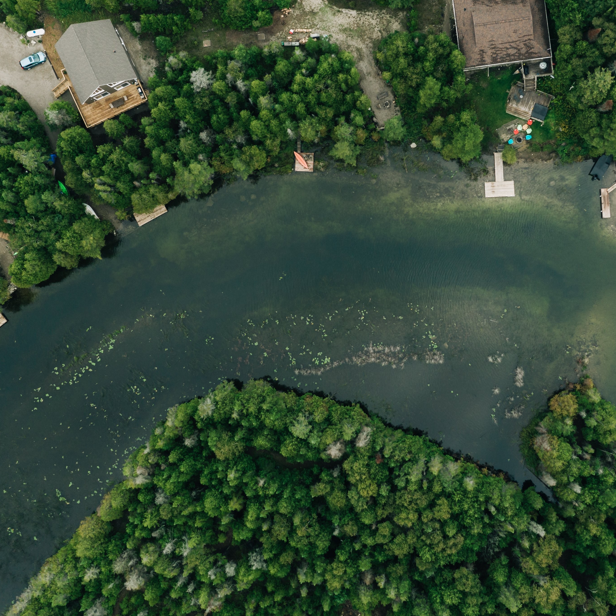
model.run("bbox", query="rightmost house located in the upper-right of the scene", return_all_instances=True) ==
[453,0,555,123]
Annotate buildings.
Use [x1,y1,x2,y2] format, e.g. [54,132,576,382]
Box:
[453,0,555,123]
[49,19,155,128]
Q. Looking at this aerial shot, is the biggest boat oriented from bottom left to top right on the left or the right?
right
